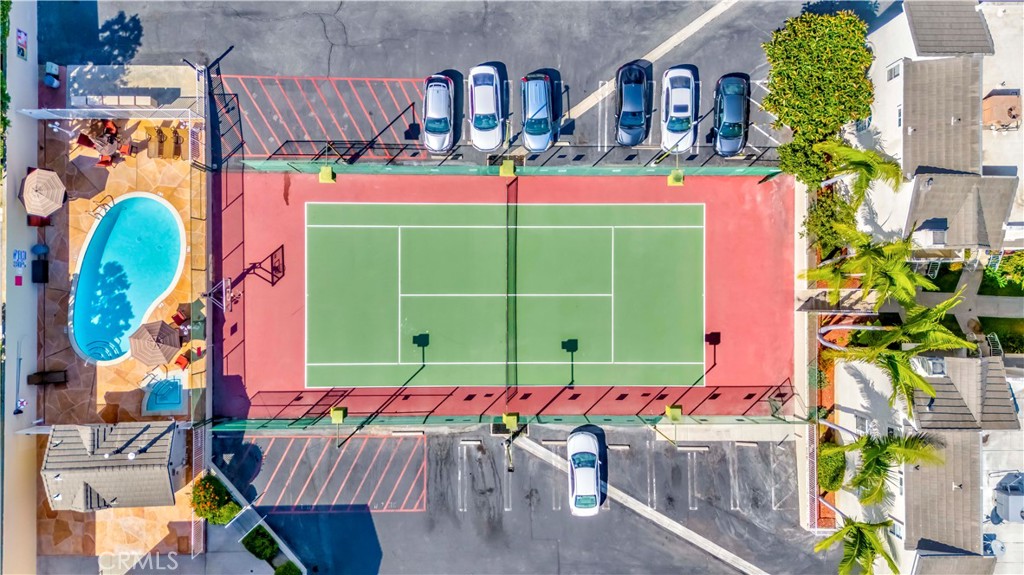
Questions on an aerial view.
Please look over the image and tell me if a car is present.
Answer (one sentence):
Yes, looking at the shot, I can spot a car.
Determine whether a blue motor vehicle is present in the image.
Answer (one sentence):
Yes, there's a blue motor vehicle down there.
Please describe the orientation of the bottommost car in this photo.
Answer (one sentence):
I'd say the bottommost car is aligned vertically in the picture.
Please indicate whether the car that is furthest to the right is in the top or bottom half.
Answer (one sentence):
You can find the car that is furthest to the right in the top half.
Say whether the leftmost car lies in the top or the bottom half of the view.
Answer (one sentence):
The leftmost car sits in the top half of the picture.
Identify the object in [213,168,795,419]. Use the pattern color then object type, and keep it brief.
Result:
green tennis court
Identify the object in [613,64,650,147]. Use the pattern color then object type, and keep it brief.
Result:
blue car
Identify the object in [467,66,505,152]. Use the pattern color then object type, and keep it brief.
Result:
white car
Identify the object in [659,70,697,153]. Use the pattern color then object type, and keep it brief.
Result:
white car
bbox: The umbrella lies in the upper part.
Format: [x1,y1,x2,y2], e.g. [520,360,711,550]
[22,170,71,215]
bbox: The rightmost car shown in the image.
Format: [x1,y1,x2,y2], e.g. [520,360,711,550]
[712,75,750,157]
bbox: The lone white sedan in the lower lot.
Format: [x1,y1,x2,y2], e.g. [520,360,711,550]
[565,431,603,514]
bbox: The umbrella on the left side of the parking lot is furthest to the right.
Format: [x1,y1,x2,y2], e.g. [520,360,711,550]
[130,318,180,368]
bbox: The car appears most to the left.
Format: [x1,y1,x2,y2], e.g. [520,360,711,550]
[419,75,456,154]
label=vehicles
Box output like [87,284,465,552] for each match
[565,431,603,514]
[659,70,697,153]
[419,75,456,154]
[467,66,505,152]
[518,73,556,153]
[712,75,750,157]
[613,64,650,147]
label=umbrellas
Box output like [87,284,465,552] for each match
[130,318,180,368]
[22,170,71,215]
